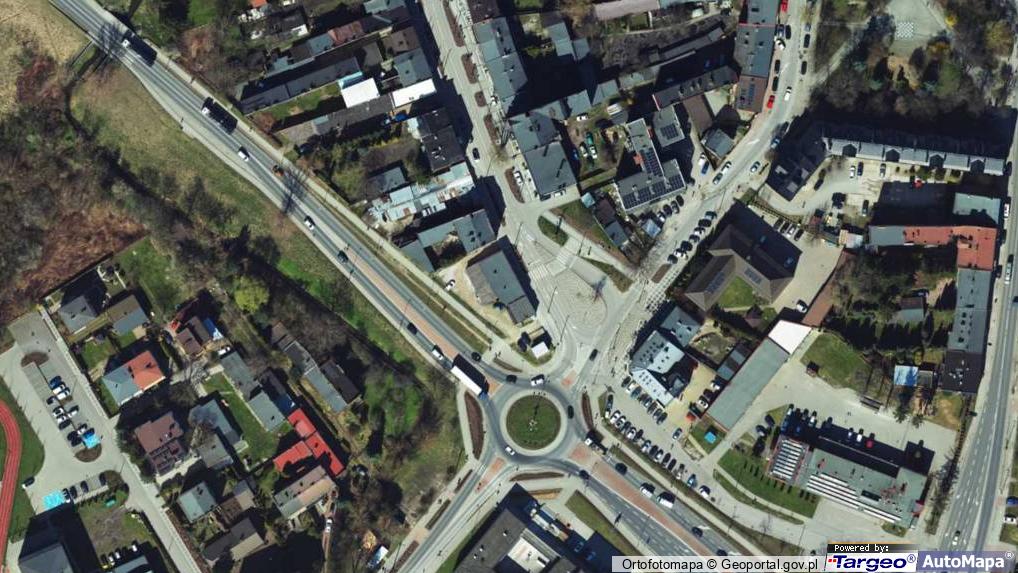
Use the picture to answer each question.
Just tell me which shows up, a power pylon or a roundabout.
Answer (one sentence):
Of the two, only a roundabout appears.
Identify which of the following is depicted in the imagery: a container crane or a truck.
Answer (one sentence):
This aerial view contains a truck.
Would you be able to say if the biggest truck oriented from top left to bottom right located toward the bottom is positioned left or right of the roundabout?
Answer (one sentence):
The biggest truck oriented from top left to bottom right located toward the bottom is to the left of the roundabout.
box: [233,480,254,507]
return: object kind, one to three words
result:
shed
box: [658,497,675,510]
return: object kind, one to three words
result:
vehicle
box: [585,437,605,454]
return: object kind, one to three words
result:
vehicle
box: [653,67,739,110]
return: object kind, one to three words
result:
house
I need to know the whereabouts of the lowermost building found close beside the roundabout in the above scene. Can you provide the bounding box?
[443,507,579,573]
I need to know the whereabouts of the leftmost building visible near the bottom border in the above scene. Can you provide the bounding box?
[19,541,86,573]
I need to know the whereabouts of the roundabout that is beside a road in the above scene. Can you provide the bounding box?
[484,373,584,473]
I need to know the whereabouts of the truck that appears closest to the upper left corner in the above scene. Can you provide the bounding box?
[124,41,152,65]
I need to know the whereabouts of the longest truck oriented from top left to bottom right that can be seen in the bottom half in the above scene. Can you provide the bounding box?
[450,368,487,400]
